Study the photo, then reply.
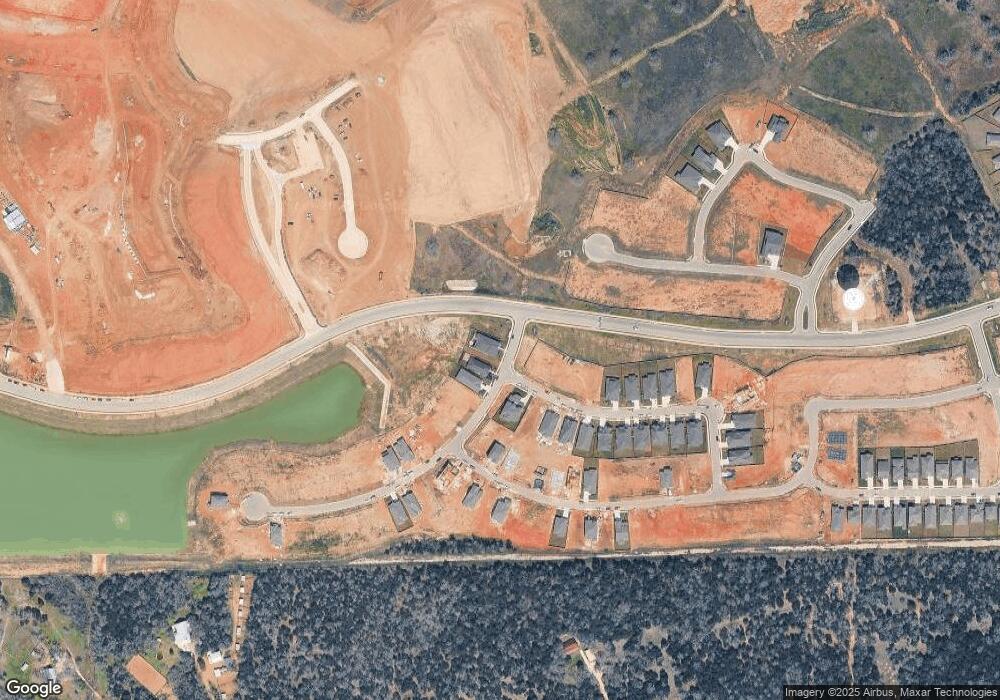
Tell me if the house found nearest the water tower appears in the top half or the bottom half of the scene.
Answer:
top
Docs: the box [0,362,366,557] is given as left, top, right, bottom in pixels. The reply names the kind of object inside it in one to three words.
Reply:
pond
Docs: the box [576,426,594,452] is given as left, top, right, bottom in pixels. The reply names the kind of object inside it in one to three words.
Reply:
house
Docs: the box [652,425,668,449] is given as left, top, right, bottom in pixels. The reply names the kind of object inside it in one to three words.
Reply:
house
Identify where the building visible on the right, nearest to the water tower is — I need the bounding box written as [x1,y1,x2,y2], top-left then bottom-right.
[762,228,782,257]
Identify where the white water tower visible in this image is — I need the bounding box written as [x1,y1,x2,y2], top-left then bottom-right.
[844,287,866,309]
